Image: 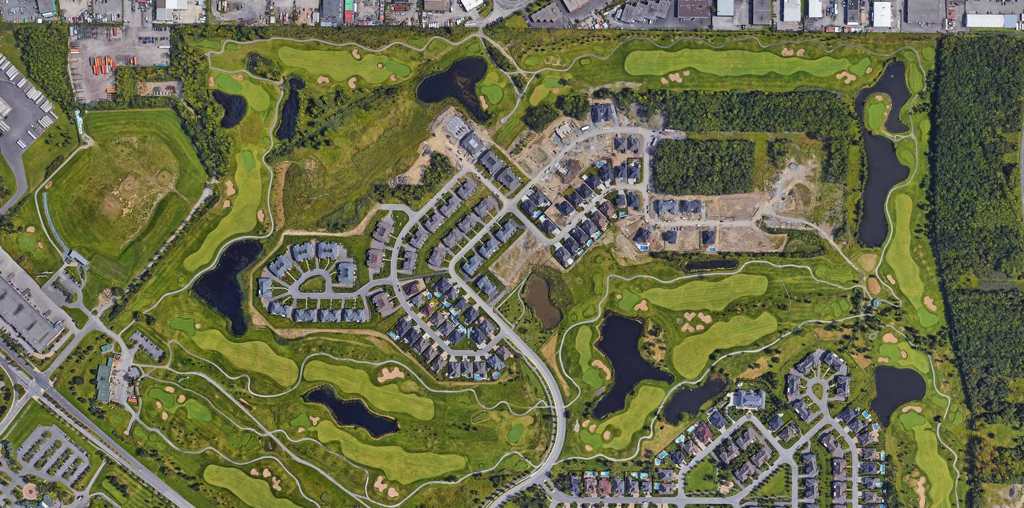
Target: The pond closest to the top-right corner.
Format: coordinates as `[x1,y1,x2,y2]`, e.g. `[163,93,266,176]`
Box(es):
[854,61,911,247]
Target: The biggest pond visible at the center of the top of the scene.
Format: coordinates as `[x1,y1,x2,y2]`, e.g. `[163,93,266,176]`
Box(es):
[418,56,490,120]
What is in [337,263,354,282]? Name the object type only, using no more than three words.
building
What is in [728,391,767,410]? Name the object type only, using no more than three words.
house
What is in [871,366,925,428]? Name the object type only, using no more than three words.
pond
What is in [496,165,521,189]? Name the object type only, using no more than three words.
building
